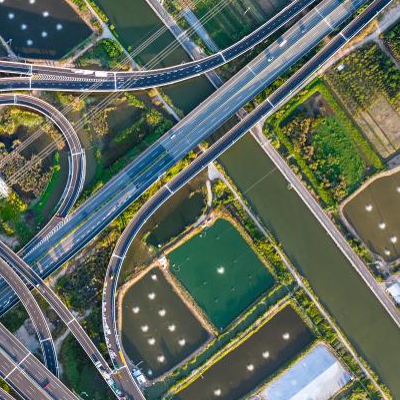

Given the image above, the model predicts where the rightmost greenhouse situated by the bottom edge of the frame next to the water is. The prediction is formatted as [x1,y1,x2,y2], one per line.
[261,344,351,400]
